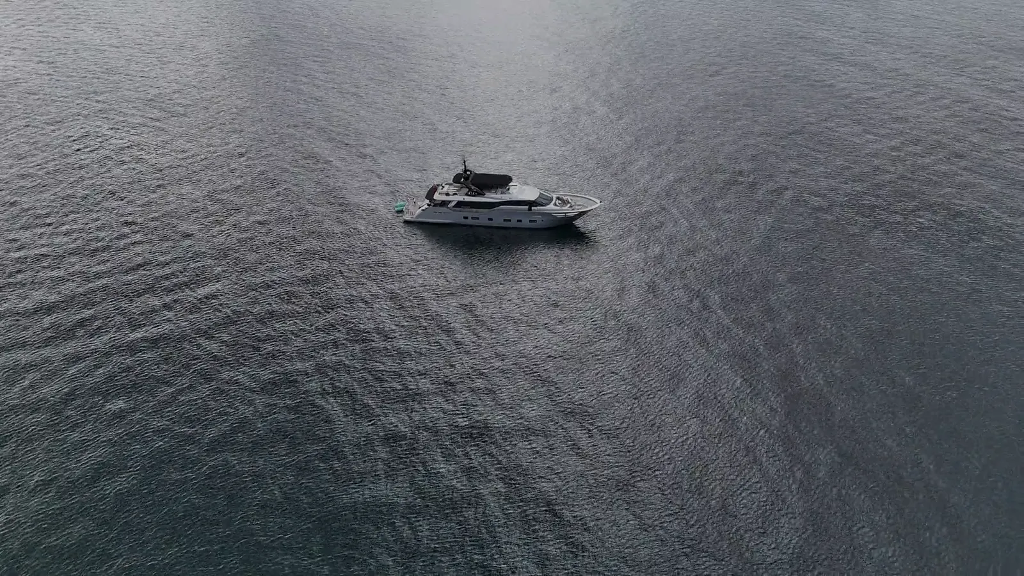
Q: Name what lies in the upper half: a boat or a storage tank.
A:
boat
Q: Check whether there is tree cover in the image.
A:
No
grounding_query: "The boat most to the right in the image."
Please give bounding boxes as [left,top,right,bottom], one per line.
[404,157,603,228]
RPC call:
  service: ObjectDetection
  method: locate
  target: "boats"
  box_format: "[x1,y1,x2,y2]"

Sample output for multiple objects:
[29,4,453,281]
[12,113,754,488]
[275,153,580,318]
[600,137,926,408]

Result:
[404,157,603,228]
[393,203,408,213]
